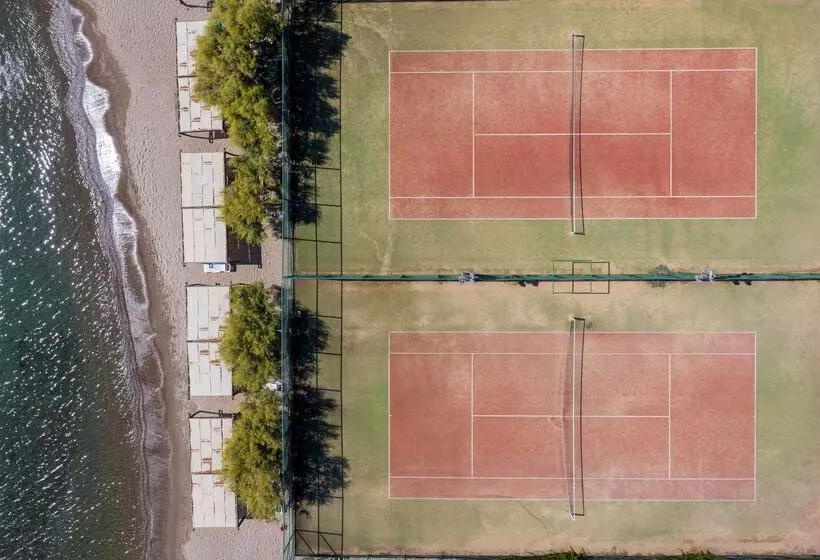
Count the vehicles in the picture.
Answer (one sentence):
The picture shows no vehicles.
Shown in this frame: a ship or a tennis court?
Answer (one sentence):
This aerial view contains a tennis court.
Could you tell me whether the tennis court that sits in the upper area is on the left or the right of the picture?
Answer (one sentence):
The tennis court that sits in the upper area appears in the right half of the scene.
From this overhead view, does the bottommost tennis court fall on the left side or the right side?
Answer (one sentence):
The bottommost tennis court is on the right side of the image.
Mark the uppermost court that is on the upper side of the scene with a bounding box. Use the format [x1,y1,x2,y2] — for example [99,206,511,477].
[295,0,820,274]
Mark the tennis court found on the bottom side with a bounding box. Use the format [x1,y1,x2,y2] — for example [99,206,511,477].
[295,279,820,557]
